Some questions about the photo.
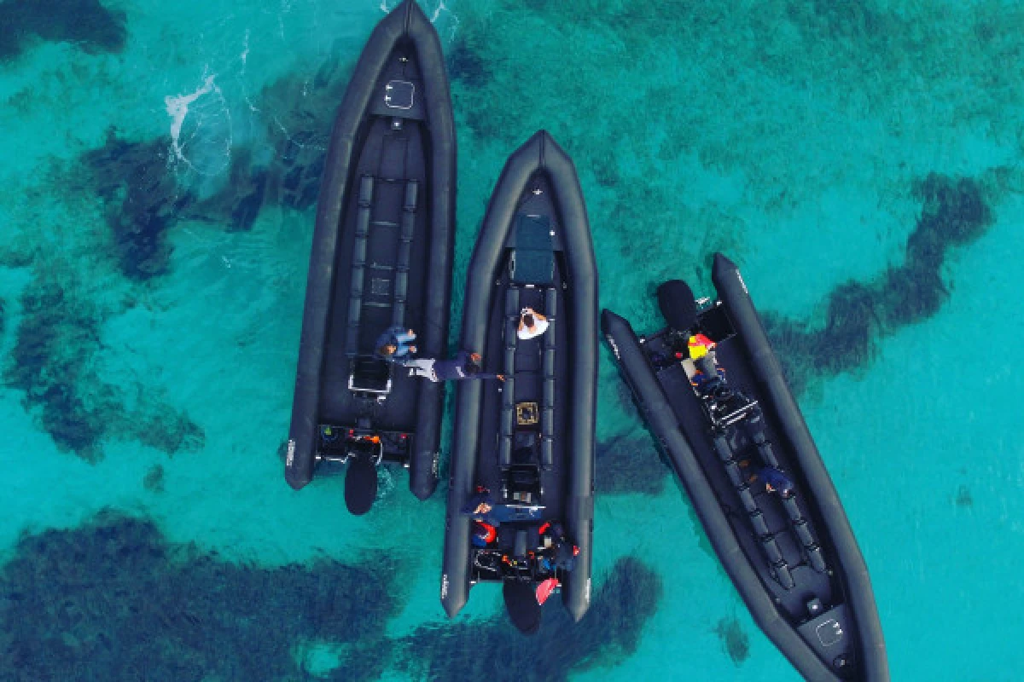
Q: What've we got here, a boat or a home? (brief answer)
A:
boat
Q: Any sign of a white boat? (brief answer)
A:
No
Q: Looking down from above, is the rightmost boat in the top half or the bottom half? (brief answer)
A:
bottom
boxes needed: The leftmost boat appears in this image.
[287,0,460,514]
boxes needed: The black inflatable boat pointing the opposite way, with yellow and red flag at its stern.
[603,254,890,682]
